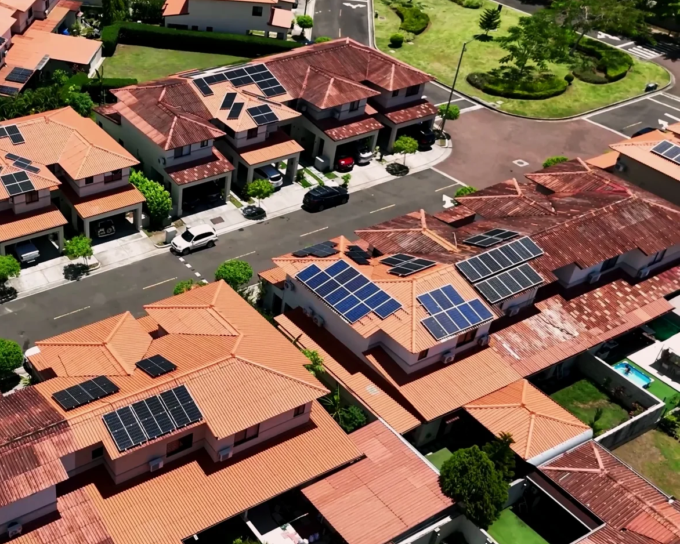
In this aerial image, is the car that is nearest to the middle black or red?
black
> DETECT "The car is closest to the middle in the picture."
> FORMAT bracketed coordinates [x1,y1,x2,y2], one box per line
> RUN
[298,178,354,211]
